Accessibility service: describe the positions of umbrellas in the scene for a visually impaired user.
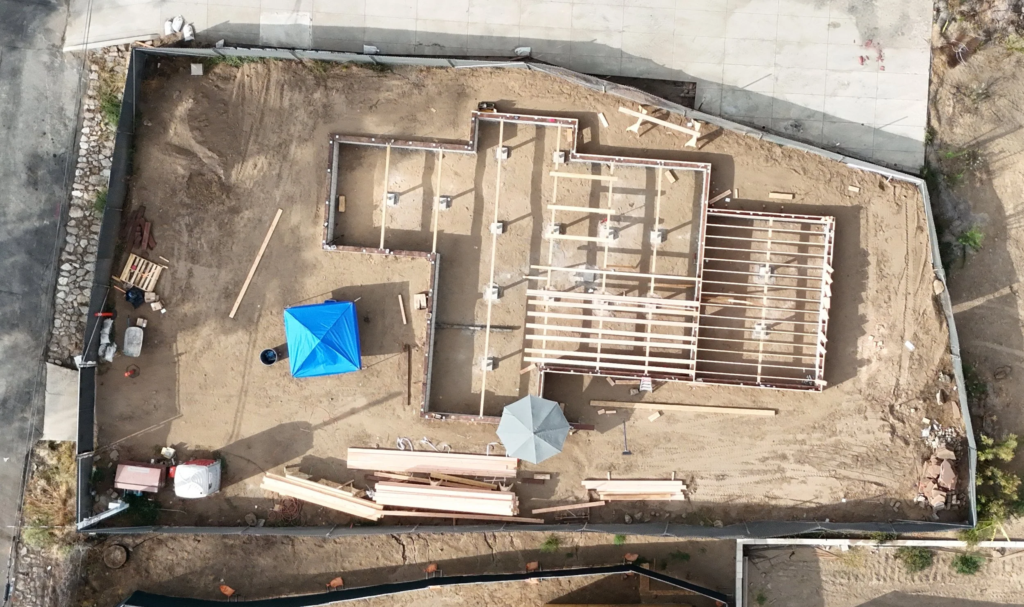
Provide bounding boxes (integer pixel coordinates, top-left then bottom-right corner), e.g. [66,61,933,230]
[497,395,570,464]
